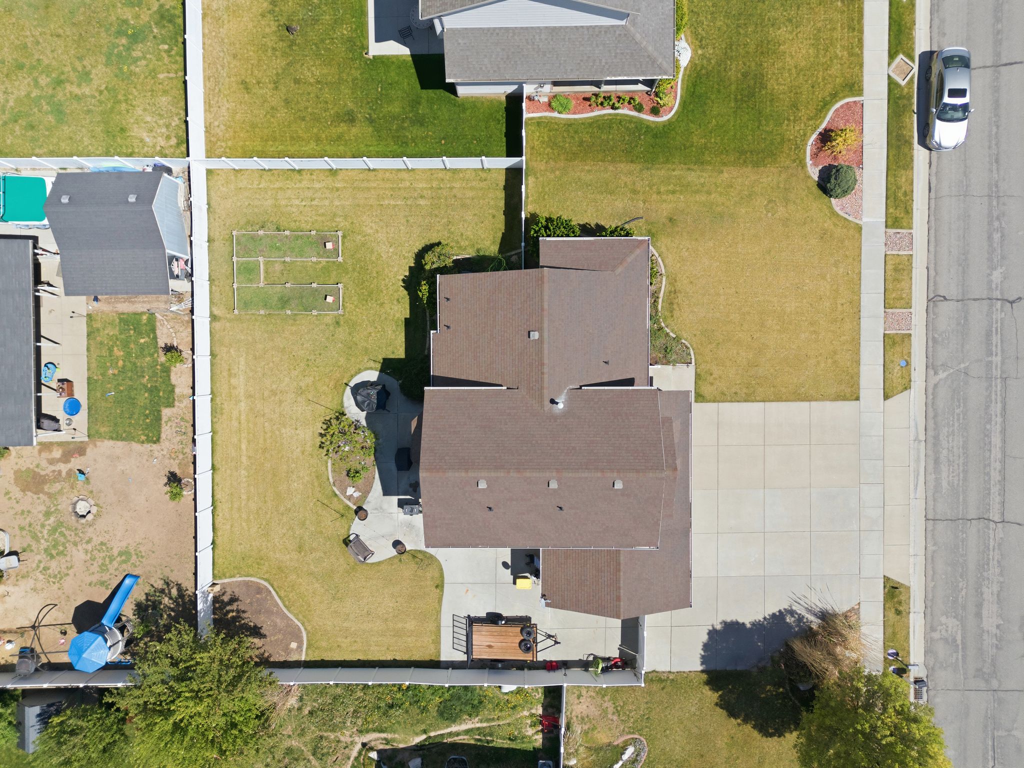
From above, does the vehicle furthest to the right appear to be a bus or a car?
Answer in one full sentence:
The vehicle furthest to the right can be classified as a car.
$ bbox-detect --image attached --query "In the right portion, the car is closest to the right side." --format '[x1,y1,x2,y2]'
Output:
[921,49,977,152]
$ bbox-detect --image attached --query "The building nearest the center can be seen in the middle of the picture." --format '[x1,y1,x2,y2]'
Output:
[413,235,695,620]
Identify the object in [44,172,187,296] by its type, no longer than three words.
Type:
shed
